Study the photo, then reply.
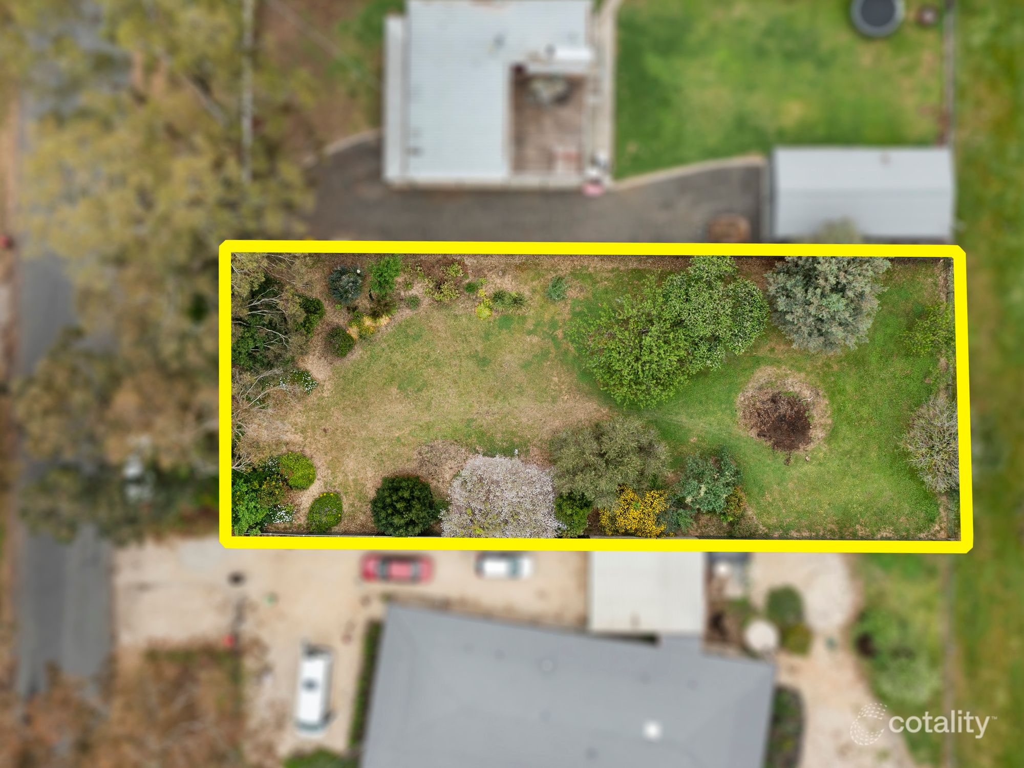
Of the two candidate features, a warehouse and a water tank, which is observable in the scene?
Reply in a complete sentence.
It is a water tank that can be seen here.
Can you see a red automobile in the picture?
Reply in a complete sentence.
Yes, the photo shows a red automobile.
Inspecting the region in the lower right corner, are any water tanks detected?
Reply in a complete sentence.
Yes, a water tank is visible in the lower right corner.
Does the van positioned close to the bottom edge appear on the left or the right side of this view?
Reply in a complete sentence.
The van positioned close to the bottom edge appears in the left half of the scene.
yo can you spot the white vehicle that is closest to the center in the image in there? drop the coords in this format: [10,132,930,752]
[475,551,534,584]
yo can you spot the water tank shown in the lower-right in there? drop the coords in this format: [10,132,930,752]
[739,614,779,654]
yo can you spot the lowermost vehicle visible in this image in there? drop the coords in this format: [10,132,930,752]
[291,643,334,734]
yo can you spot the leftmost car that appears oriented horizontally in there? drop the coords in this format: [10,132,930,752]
[361,551,434,586]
